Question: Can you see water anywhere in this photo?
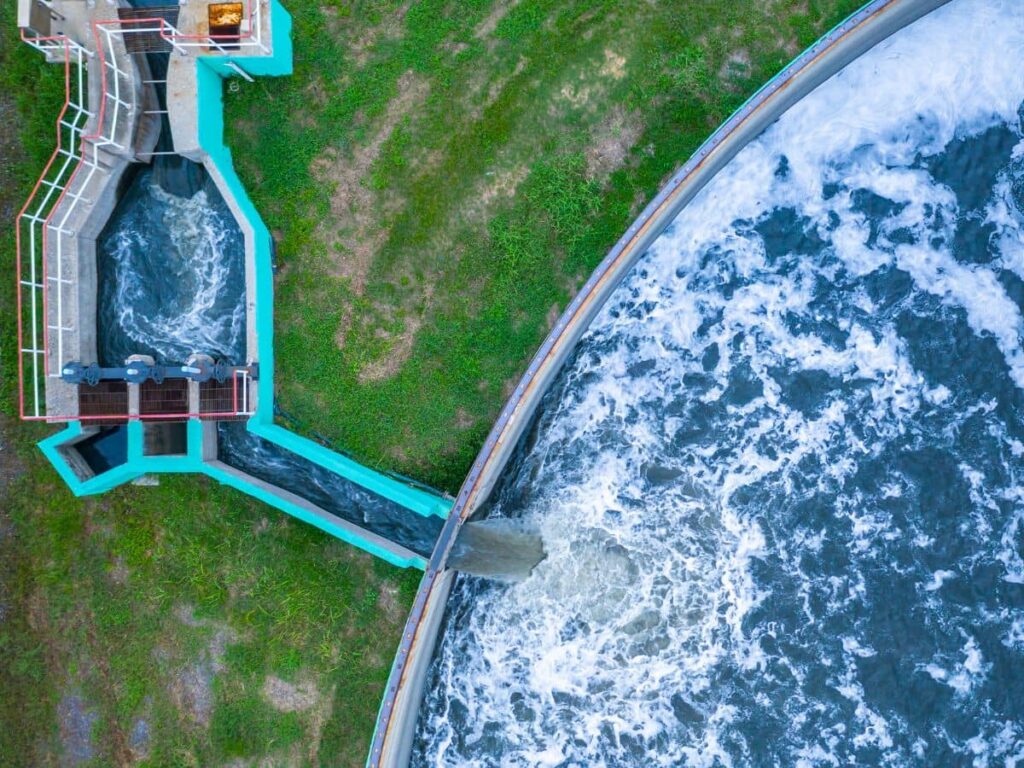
Yes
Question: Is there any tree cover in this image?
No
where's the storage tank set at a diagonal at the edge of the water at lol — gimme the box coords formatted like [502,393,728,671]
[367,0,964,768]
